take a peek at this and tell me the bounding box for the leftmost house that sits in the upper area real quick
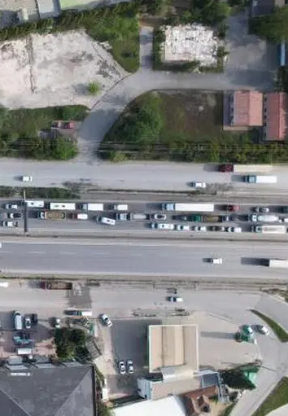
[223,91,263,129]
